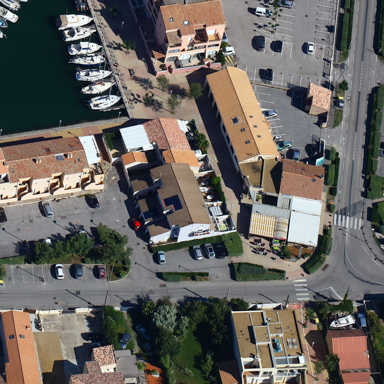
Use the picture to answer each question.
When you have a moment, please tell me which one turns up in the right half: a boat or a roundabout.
boat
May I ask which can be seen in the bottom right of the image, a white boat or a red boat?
white boat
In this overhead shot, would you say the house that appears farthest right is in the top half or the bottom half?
bottom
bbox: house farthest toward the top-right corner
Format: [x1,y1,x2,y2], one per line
[306,82,332,121]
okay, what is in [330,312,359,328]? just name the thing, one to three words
boat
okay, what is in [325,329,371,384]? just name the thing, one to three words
house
